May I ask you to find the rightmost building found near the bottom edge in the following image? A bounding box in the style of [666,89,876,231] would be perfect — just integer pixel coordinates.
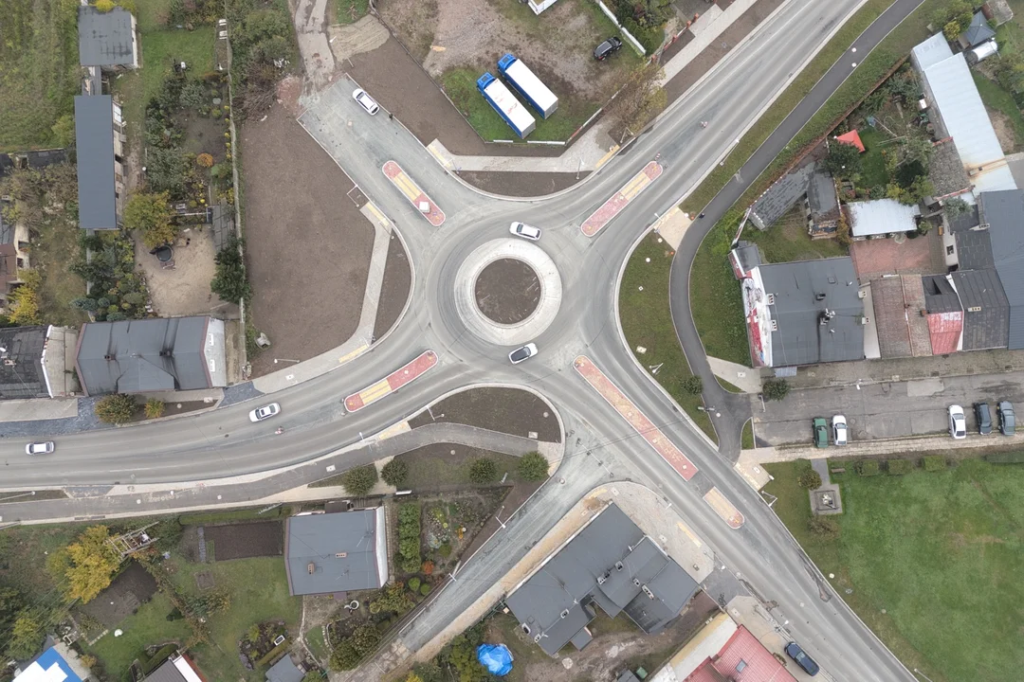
[635,604,798,682]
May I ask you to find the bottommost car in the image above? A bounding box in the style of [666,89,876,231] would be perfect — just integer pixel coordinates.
[786,641,818,675]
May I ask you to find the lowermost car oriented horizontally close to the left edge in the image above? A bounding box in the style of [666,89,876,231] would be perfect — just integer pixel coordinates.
[25,441,57,456]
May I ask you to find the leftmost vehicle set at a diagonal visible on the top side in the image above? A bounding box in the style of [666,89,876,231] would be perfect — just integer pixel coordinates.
[351,87,382,117]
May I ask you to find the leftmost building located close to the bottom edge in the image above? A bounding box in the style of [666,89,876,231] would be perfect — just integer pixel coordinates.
[8,628,99,682]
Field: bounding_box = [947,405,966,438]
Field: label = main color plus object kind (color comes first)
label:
white car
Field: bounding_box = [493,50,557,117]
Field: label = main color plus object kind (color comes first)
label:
white truck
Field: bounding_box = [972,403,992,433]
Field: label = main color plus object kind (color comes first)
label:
gray car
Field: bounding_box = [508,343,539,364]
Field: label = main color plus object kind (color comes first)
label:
white car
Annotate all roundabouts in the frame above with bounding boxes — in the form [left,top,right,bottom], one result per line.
[453,236,563,346]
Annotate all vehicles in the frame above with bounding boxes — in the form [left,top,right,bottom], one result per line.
[786,641,818,675]
[996,401,1016,435]
[811,417,828,448]
[351,87,382,117]
[831,415,849,445]
[249,402,282,422]
[493,50,557,117]
[509,221,542,240]
[972,403,992,433]
[472,68,535,137]
[947,405,966,438]
[25,441,57,456]
[508,343,539,364]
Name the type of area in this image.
residential area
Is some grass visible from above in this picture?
Yes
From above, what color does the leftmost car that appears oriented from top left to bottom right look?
white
